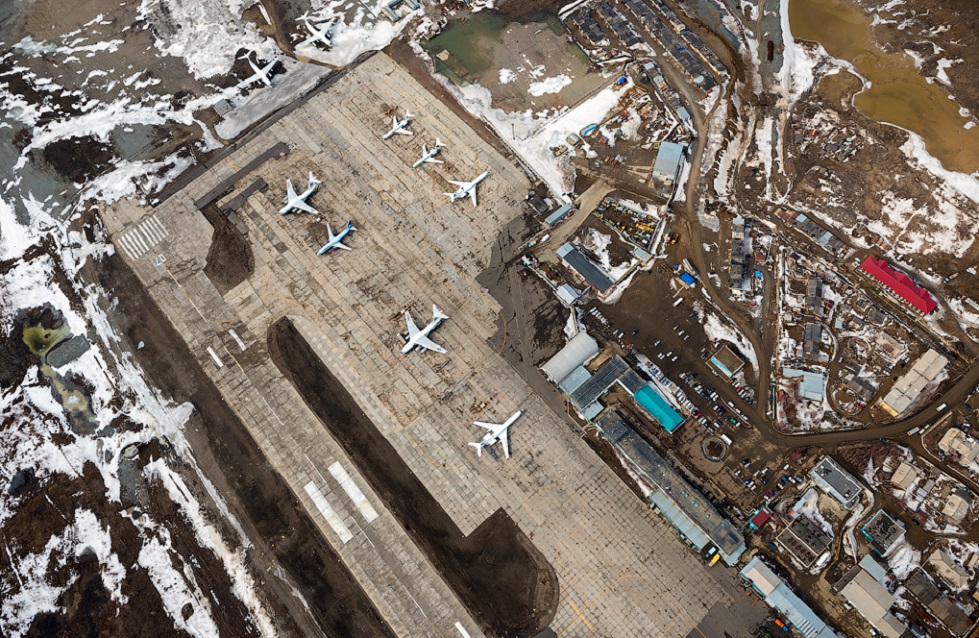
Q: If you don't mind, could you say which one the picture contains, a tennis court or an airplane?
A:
airplane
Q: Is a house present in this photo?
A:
Yes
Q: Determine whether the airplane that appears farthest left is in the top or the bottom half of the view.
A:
top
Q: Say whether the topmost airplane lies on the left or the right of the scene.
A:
left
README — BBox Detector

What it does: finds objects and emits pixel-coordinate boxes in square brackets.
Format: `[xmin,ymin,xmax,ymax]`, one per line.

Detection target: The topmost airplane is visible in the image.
[295,12,337,45]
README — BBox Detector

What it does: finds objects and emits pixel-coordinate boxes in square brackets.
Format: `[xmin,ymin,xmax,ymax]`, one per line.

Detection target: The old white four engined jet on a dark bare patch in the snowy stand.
[236,52,280,86]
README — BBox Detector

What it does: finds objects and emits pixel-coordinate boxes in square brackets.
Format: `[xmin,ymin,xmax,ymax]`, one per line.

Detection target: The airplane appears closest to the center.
[402,300,453,353]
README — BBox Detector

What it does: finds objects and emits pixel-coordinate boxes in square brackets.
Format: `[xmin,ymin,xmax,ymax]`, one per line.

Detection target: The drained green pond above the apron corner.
[420,8,512,87]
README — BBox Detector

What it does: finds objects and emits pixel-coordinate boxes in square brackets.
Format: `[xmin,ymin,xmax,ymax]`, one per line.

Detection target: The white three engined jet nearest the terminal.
[468,409,524,458]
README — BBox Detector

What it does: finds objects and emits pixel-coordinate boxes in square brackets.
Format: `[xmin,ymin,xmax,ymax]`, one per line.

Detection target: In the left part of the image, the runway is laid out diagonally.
[112,204,485,638]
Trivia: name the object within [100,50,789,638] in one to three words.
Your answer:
airport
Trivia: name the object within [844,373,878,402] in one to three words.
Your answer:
house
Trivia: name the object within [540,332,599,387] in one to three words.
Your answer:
hangar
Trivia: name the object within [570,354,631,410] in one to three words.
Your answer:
building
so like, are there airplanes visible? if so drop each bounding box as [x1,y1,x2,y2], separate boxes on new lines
[443,171,490,207]
[413,137,450,167]
[402,300,453,353]
[236,52,280,86]
[383,108,418,139]
[279,172,329,217]
[468,409,524,458]
[295,12,337,45]
[317,223,359,255]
